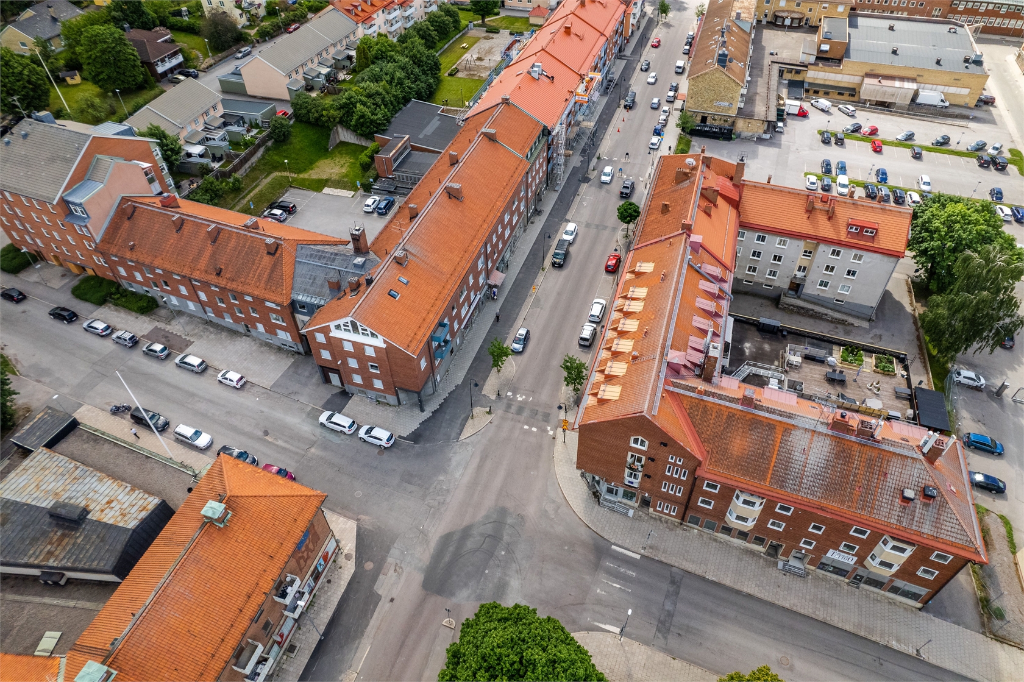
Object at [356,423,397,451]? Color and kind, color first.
white car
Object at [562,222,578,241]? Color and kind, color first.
white car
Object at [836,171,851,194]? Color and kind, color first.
white vehicle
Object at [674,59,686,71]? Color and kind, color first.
white vehicle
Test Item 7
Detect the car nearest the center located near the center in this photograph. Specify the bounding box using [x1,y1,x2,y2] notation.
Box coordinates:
[509,326,530,354]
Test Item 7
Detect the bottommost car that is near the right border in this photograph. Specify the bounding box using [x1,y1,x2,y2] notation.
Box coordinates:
[968,467,1013,498]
